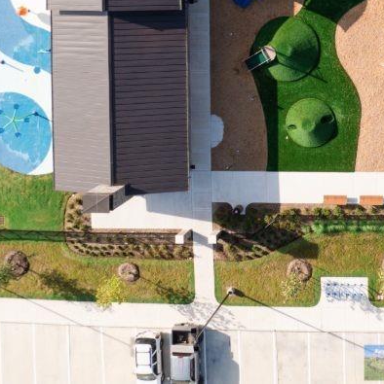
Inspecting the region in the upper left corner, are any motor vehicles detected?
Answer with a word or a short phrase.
No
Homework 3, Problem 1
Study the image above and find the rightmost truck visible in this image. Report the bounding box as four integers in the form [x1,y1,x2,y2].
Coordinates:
[169,326,204,384]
